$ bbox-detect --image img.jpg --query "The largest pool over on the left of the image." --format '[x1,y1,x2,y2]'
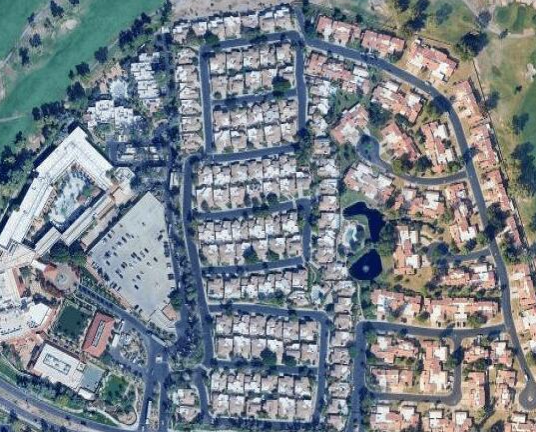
[40,164,95,227]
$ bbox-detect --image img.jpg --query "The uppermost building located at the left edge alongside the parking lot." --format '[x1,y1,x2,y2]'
[0,125,137,257]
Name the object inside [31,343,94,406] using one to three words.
building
